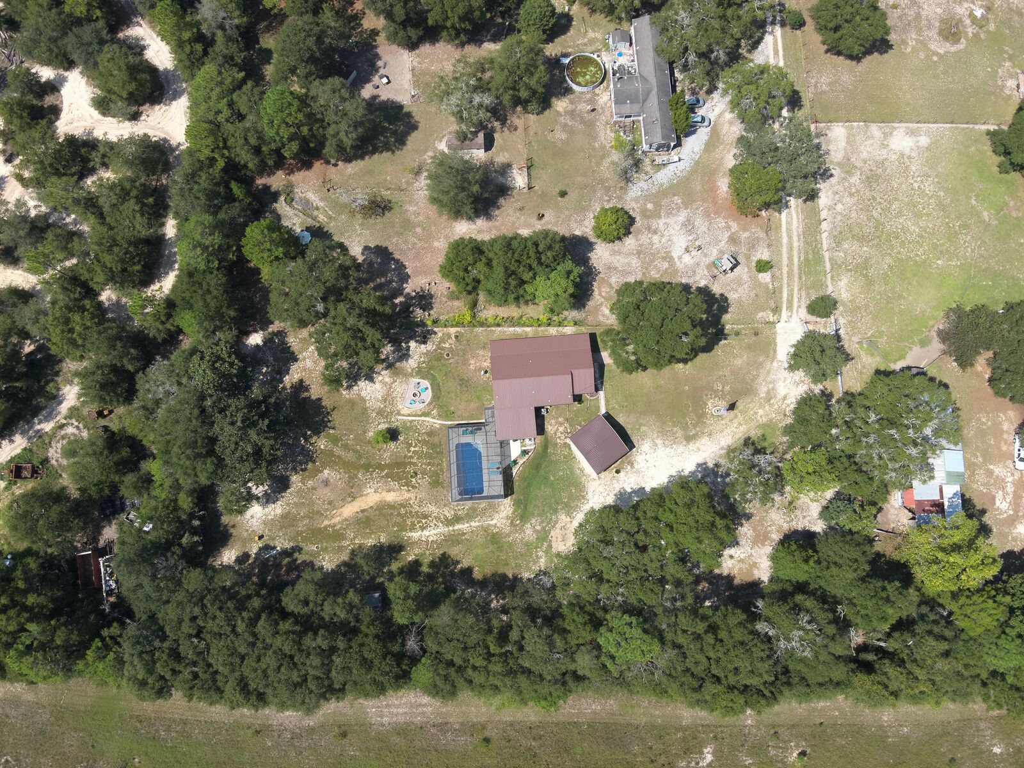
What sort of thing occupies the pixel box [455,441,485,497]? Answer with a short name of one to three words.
swimming pool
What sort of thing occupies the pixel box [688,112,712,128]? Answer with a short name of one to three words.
car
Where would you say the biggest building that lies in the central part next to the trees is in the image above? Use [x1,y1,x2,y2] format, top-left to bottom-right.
[489,333,595,440]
